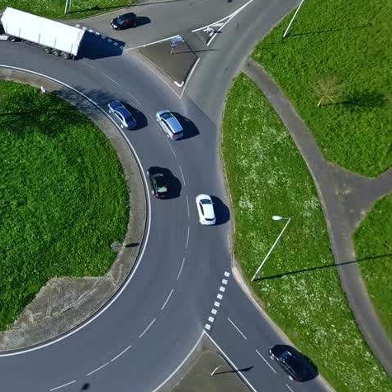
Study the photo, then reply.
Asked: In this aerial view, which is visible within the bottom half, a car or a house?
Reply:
car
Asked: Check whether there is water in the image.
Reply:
No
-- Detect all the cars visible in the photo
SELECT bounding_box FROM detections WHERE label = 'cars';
[269,344,309,382]
[149,167,171,199]
[158,110,184,140]
[196,194,216,226]
[109,10,139,30]
[109,100,137,130]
